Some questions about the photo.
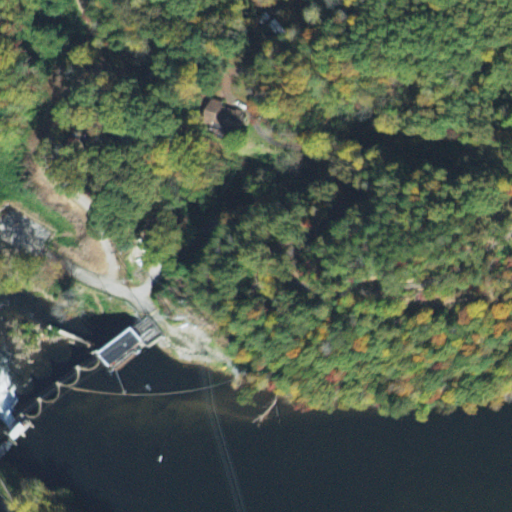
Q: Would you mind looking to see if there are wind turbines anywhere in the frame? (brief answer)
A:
No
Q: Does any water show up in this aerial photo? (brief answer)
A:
Yes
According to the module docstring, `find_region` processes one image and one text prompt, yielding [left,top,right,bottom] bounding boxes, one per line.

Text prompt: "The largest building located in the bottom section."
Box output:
[97,326,145,370]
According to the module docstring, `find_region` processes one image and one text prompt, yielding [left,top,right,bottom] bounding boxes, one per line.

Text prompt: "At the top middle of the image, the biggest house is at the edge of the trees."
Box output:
[204,99,242,134]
